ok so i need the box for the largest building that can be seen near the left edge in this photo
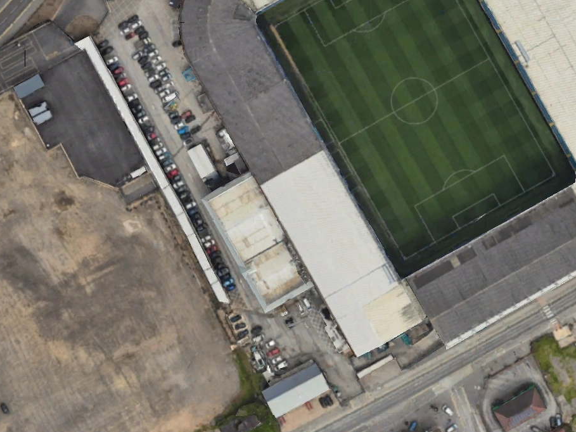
[14,75,45,97]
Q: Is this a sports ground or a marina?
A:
sports ground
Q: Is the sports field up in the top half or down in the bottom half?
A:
top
